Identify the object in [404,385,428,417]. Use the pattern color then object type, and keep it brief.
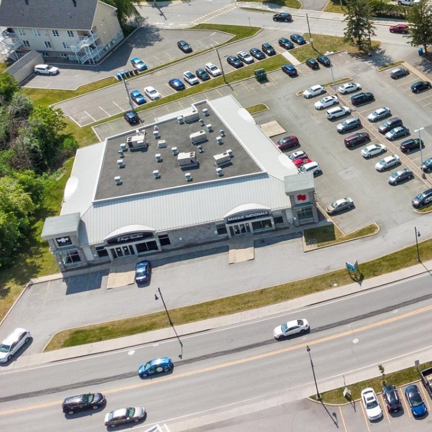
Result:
blue car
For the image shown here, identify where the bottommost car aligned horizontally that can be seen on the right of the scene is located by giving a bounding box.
[273,320,311,340]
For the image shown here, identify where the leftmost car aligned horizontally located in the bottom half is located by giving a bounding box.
[57,392,108,416]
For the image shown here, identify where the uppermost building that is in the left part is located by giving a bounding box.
[0,0,126,66]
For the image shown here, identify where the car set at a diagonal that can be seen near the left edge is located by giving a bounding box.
[0,330,30,362]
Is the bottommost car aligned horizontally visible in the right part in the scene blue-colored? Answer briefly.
No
